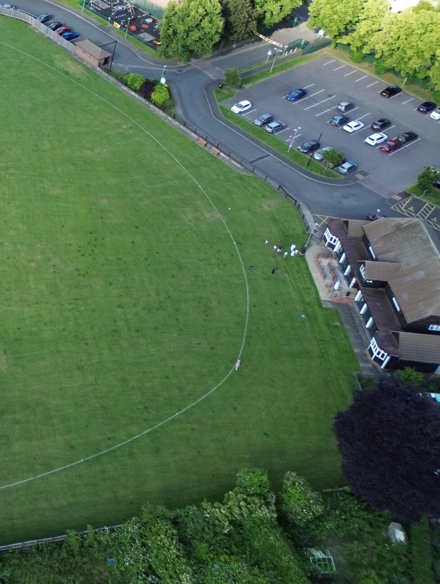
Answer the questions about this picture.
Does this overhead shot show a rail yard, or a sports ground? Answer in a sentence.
The area seen from above is a sports ground.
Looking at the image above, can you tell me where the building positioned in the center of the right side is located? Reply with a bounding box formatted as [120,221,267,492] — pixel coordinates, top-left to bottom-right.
[329,219,440,378]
